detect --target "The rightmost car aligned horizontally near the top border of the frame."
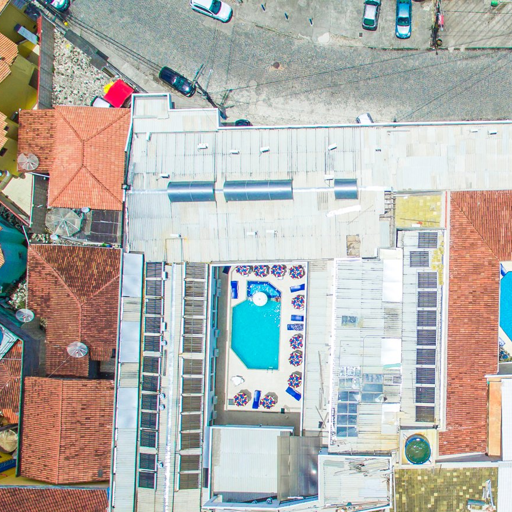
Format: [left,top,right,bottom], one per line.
[189,0,234,23]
